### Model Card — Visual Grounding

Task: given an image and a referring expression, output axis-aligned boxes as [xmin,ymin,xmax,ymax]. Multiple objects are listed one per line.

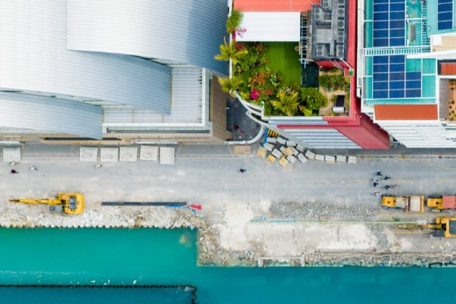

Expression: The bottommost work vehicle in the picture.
[398,214,456,237]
